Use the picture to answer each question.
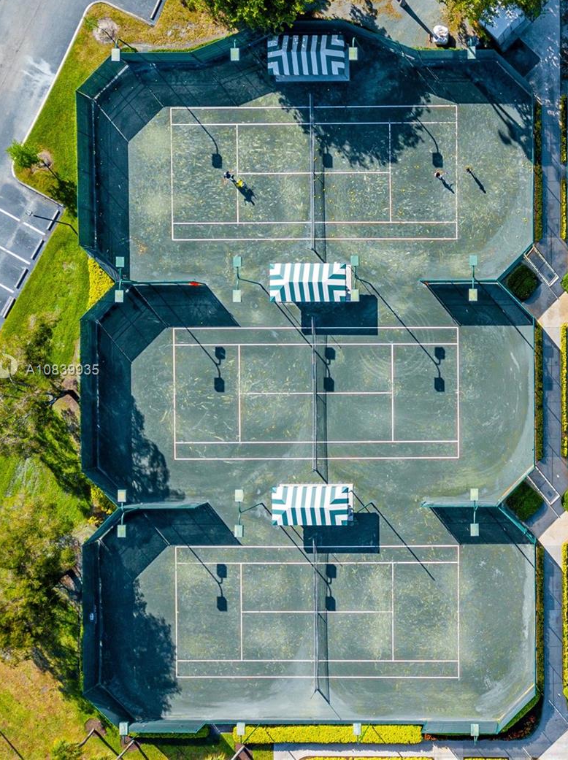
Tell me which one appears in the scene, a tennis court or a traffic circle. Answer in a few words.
tennis court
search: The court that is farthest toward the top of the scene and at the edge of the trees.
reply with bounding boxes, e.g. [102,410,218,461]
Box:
[96,34,534,288]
